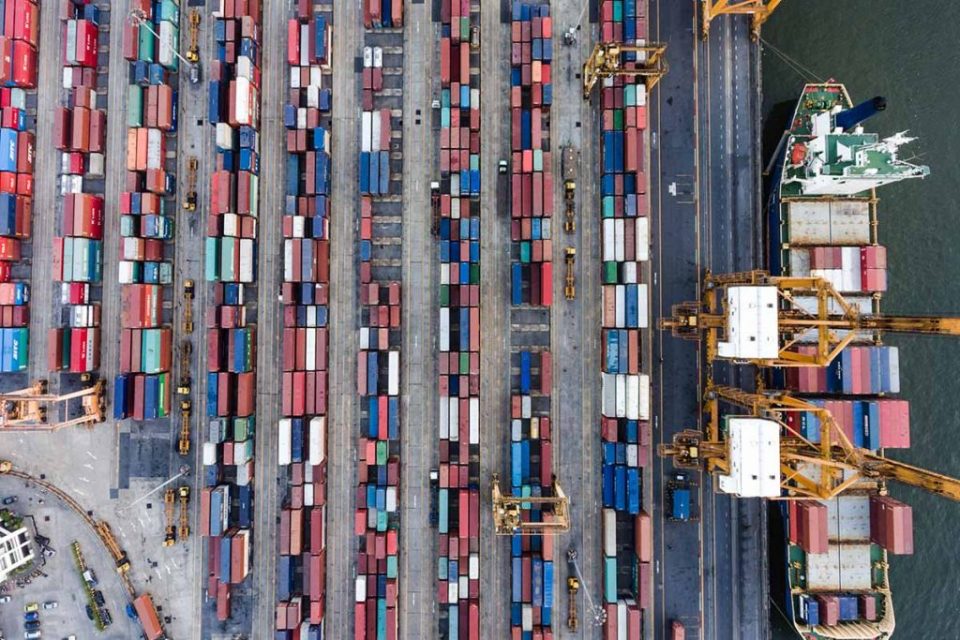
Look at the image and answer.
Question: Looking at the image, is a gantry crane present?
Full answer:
Yes, there's a gantry crane here.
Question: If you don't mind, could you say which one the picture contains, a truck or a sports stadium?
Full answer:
The one in the frame is a truck.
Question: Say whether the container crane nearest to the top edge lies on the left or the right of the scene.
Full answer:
The container crane nearest to the top edge appears in the right half of the scene.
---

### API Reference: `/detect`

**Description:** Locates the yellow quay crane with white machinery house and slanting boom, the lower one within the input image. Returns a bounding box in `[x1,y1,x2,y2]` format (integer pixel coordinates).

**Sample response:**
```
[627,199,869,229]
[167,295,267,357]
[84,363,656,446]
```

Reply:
[653,379,960,499]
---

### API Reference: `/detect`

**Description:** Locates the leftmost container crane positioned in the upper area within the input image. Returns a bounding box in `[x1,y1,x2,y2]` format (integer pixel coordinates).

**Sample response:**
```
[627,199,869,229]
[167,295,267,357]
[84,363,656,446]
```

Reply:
[580,41,673,103]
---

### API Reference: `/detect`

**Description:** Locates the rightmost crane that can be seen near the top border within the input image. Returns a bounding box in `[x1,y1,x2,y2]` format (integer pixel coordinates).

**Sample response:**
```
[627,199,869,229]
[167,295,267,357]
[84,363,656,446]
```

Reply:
[706,0,790,54]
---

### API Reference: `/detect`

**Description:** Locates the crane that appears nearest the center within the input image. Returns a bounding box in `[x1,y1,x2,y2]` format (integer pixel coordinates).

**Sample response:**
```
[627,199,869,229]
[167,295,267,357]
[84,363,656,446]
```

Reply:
[488,476,573,528]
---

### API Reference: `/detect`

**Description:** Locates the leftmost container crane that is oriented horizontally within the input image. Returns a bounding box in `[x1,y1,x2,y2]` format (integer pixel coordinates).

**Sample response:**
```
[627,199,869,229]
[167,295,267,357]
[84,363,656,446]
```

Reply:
[0,386,103,426]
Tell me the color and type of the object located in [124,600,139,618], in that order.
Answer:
blue vehicle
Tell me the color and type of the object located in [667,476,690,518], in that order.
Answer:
blue truck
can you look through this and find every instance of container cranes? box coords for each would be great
[580,41,673,103]
[488,476,573,528]
[0,386,103,426]
[653,379,960,499]
[706,0,790,54]
[652,267,960,379]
